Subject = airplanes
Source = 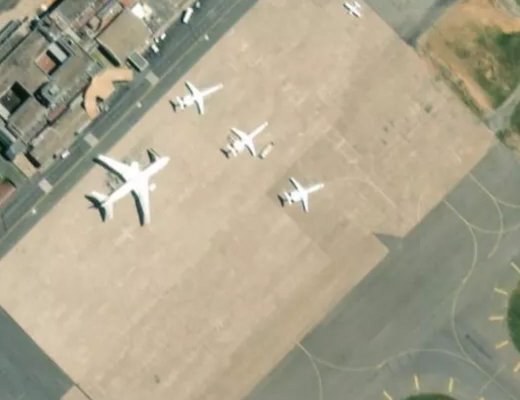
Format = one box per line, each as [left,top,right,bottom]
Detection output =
[283,177,323,212]
[175,81,222,116]
[346,1,361,17]
[225,123,267,158]
[91,153,170,225]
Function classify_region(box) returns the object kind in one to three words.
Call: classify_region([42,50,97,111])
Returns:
building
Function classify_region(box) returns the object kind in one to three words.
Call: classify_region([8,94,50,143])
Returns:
building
